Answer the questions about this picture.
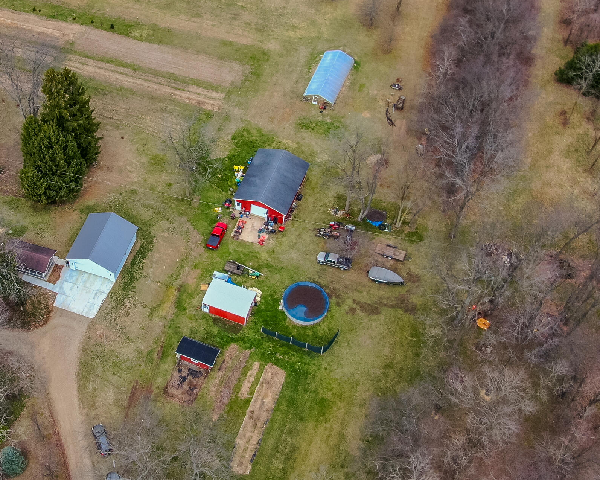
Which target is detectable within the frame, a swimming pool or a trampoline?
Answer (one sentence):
There is a swimming pool in the scene.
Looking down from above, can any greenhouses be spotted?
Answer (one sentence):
Yes, there's a greenhouse down there.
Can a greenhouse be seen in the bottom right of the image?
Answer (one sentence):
No, no greenhouse is visible in the bottom right of the image.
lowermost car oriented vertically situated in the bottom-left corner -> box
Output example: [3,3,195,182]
[92,423,110,456]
